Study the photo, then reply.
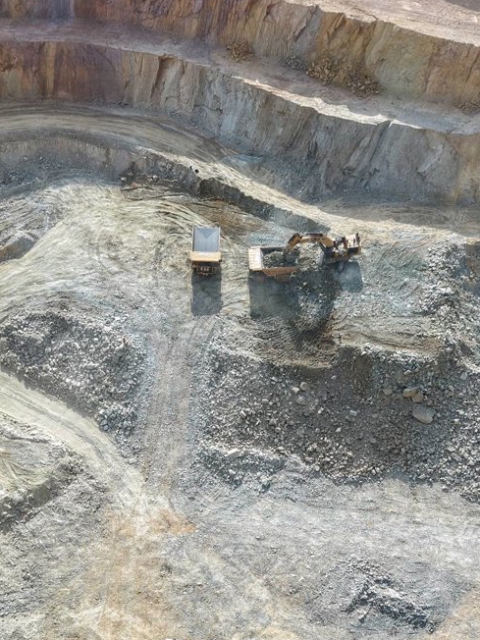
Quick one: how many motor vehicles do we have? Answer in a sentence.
My tally gives 3 motor vehicles in this view.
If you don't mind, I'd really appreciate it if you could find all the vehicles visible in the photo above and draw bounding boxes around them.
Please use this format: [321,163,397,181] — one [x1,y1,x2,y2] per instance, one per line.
[289,235,369,273]
[249,245,304,287]
[188,223,222,277]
